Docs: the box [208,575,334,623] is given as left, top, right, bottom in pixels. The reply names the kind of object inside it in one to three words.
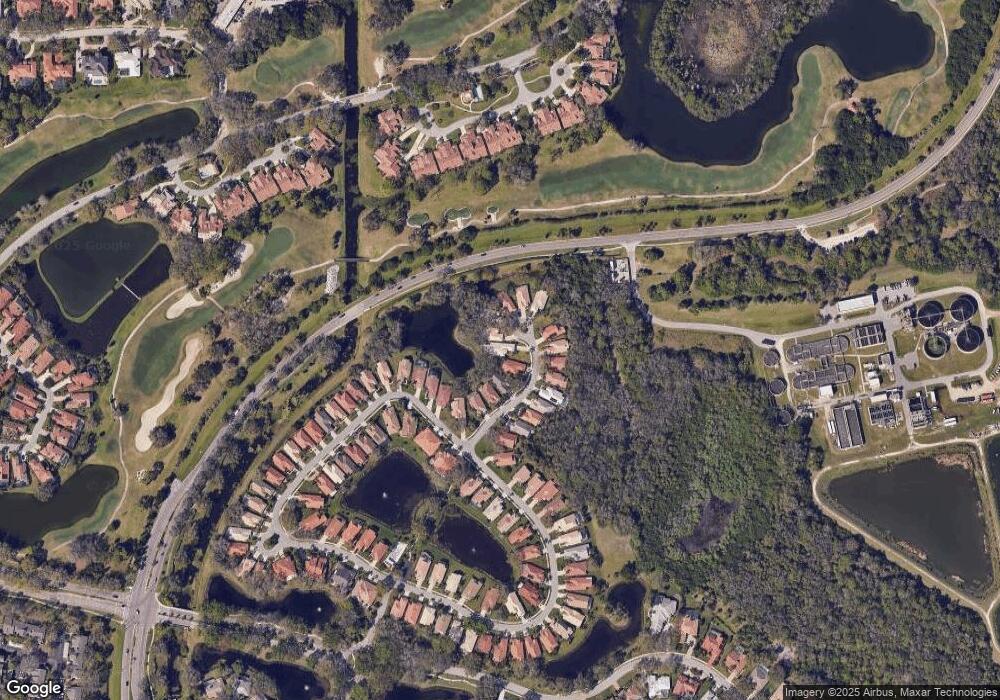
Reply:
pond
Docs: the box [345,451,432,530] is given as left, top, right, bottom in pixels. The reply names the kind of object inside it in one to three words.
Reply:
pond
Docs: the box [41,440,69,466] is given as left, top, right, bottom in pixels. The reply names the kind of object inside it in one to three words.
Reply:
house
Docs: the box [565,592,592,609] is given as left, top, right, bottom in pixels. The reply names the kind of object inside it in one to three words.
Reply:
house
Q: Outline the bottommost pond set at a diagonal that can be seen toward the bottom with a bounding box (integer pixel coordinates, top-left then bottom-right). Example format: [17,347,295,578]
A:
[546,580,645,680]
